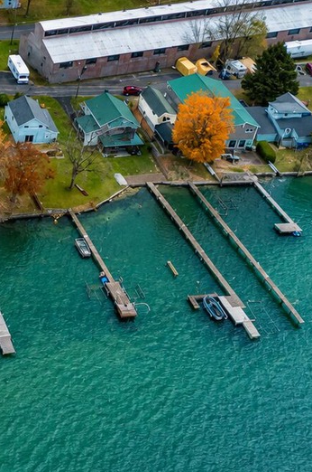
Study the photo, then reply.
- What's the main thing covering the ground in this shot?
water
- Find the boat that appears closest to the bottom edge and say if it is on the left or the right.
right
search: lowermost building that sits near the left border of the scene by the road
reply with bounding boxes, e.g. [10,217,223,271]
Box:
[9,96,59,142]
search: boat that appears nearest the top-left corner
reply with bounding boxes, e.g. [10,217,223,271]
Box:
[113,172,126,186]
